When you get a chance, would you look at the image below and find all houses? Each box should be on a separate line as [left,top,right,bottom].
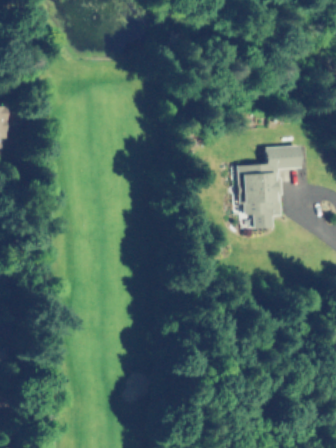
[237,145,304,230]
[0,106,9,153]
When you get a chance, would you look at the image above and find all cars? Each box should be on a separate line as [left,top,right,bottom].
[314,202,322,217]
[291,170,298,184]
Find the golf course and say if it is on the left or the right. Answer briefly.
left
